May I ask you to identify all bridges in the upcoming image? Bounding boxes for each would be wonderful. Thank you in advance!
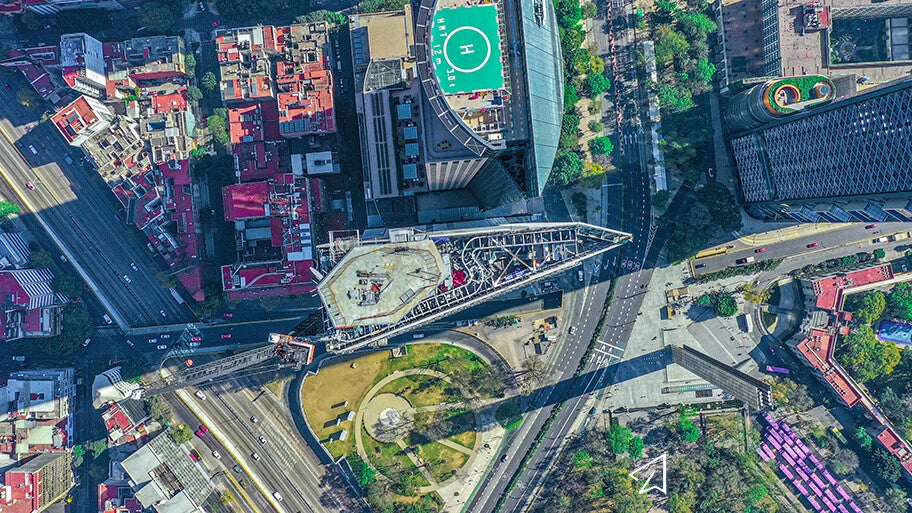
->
[121,315,268,362]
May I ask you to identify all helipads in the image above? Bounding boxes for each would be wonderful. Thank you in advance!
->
[431,5,503,95]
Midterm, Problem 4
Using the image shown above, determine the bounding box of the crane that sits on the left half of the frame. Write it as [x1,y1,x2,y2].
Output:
[134,315,334,403]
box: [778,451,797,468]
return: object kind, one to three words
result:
vehicle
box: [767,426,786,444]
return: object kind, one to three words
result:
vehicle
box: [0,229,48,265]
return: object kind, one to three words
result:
building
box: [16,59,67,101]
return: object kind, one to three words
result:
house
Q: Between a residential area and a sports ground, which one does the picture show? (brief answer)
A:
residential area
